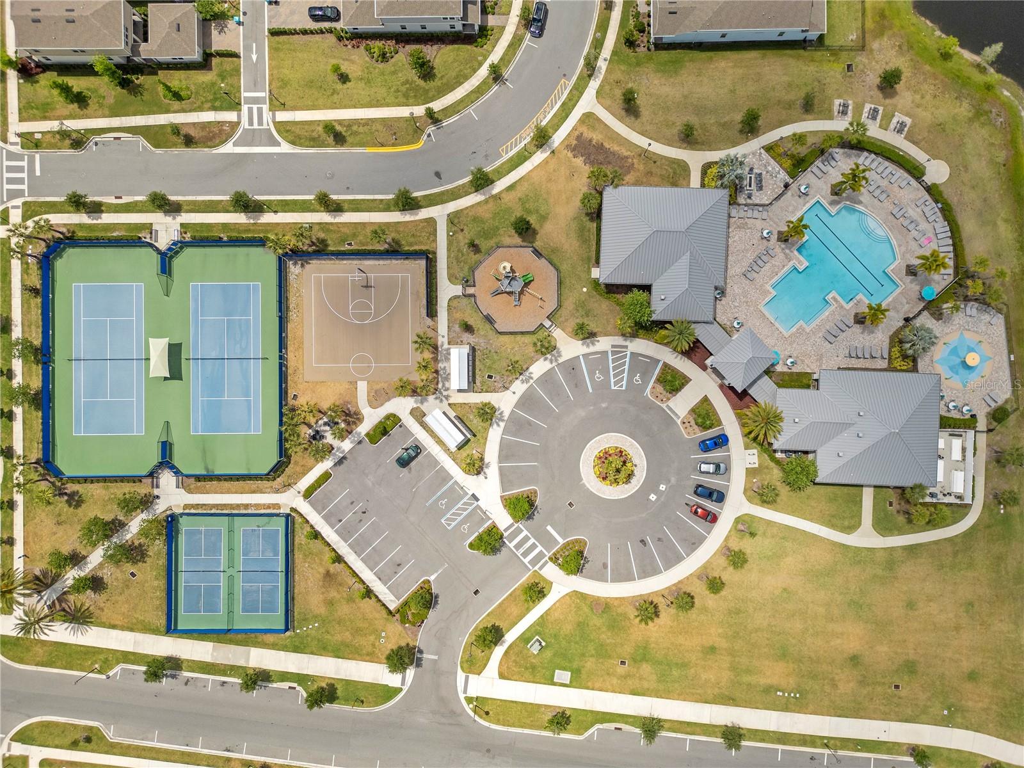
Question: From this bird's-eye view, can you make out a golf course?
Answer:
No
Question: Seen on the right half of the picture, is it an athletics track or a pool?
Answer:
pool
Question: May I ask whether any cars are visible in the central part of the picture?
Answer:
Yes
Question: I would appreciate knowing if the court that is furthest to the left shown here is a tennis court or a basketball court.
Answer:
tennis court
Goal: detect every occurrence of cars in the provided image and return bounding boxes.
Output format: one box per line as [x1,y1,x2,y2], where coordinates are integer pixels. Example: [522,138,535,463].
[698,435,729,452]
[308,3,339,20]
[394,443,422,469]
[689,503,718,524]
[530,1,548,37]
[697,462,728,477]
[693,484,726,503]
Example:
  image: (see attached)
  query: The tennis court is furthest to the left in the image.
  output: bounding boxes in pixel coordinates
[67,284,144,435]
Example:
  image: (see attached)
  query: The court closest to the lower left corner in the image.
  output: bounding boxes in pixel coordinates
[177,528,226,614]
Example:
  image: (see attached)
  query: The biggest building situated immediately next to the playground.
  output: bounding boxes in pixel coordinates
[591,186,727,322]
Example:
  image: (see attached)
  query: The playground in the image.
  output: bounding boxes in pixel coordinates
[463,246,558,332]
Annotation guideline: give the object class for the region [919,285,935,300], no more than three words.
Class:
umbrella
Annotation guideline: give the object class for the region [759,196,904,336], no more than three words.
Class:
swimming pool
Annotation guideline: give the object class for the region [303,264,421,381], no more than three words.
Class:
basketball court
